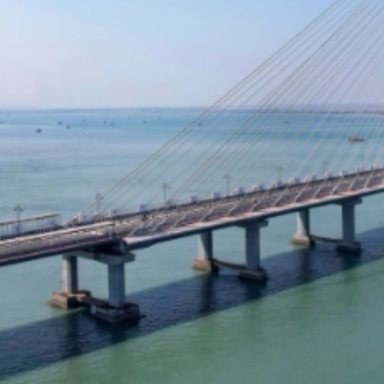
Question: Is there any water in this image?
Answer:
Yes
